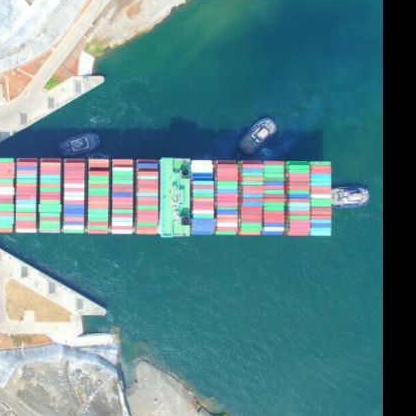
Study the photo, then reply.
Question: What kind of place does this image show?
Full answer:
What you see here is a port.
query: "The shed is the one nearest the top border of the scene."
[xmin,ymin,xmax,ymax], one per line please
[78,50,95,75]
